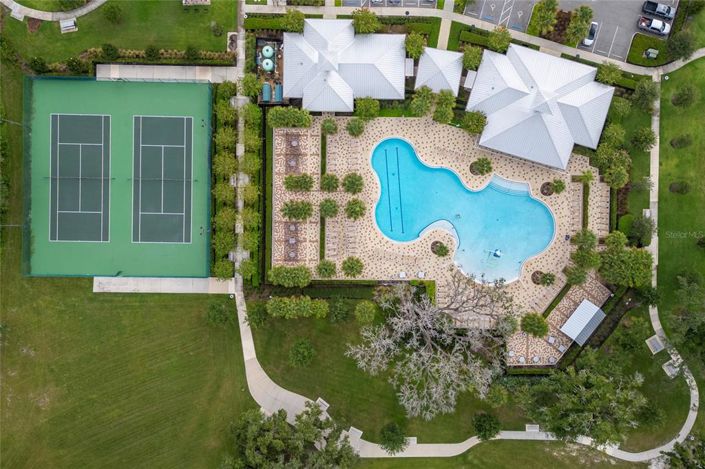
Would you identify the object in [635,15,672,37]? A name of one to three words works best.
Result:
truck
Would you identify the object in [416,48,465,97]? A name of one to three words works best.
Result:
building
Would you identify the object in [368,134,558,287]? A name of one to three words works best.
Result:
swimming pool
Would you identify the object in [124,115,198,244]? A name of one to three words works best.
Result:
tennis court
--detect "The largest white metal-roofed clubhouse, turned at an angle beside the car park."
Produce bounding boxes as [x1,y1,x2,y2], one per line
[467,39,614,166]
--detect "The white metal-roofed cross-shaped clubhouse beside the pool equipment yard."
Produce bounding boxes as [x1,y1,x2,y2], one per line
[284,19,406,112]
